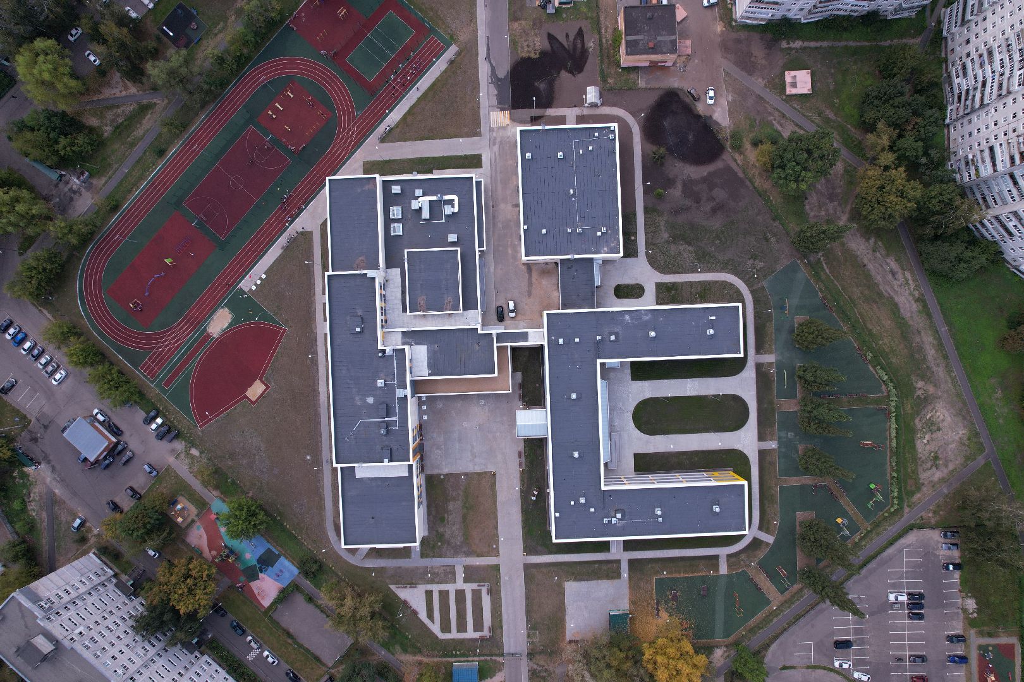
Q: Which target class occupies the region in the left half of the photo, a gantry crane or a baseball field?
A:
baseball field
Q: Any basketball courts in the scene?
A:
Yes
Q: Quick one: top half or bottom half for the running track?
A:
top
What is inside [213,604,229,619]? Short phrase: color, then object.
black car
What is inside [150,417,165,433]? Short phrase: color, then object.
white car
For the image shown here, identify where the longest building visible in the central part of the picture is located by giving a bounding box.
[325,172,511,548]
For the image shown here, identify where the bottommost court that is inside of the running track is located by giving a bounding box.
[183,125,291,239]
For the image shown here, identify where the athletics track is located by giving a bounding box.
[77,0,453,429]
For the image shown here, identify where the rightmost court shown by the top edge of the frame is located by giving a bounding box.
[333,0,432,95]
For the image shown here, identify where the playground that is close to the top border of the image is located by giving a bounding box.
[158,2,208,49]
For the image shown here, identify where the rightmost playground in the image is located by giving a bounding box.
[978,643,1016,682]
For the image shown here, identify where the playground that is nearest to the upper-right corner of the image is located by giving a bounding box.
[764,260,885,399]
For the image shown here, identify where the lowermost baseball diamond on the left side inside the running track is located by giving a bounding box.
[190,321,286,427]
